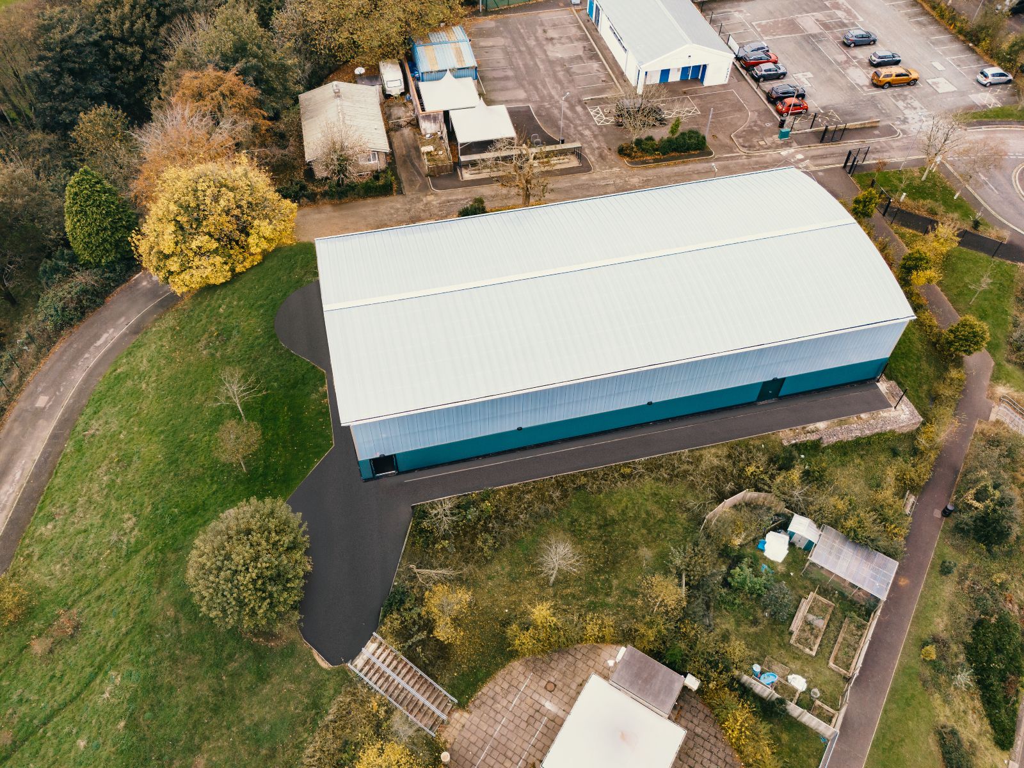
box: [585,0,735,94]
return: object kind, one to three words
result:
building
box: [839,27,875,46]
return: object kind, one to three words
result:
car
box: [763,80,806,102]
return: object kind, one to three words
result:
car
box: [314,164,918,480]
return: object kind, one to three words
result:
building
